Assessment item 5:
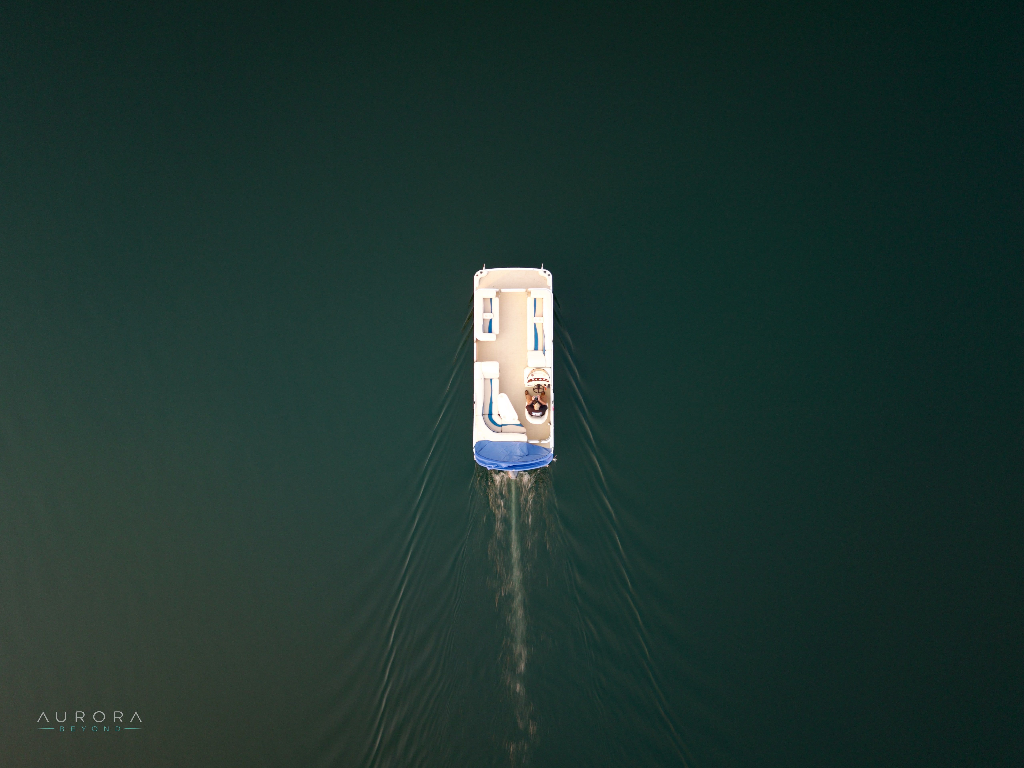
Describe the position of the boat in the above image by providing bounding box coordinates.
[473,263,554,478]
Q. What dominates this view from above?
water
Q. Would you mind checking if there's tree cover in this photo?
No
